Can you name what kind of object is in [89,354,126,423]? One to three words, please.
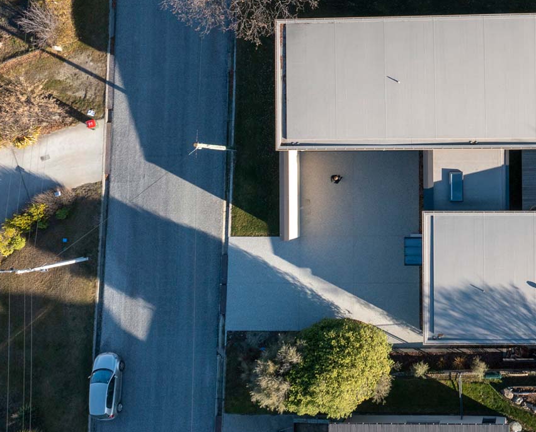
car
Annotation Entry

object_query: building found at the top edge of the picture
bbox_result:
[276,13,536,151]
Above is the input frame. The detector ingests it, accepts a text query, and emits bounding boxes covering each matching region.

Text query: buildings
[327,405,511,432]
[423,209,536,346]
[276,13,536,151]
